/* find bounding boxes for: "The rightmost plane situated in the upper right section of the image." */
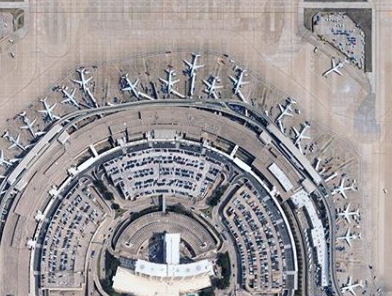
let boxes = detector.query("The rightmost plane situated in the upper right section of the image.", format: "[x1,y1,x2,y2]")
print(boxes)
[325,57,346,75]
